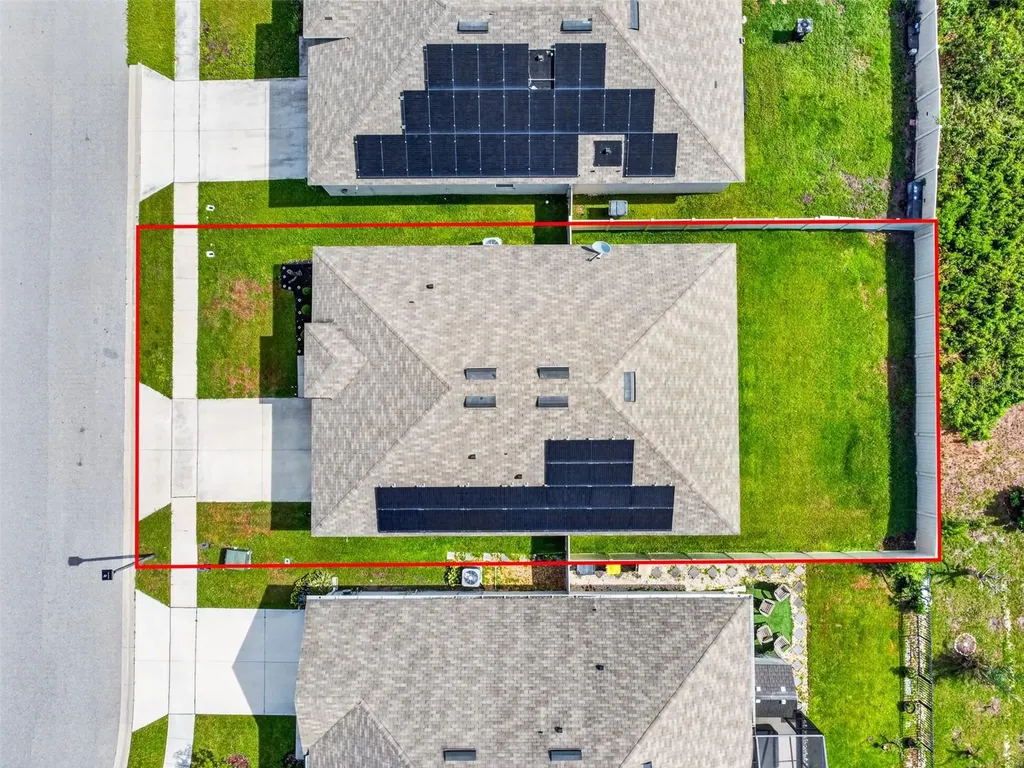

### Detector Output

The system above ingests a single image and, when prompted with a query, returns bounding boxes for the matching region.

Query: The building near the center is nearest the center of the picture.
[304,243,740,536]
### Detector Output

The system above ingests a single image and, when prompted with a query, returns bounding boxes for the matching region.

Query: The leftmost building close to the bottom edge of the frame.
[293,582,758,768]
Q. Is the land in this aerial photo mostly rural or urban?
urban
